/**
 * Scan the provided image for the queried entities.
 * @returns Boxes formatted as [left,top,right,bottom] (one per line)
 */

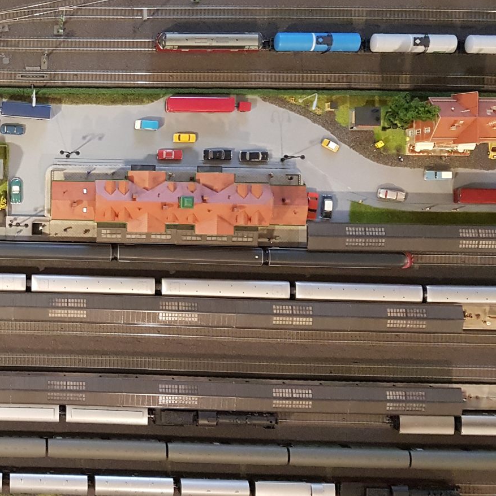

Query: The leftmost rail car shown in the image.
[0,241,114,261]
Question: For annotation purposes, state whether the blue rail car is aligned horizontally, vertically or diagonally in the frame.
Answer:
horizontally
